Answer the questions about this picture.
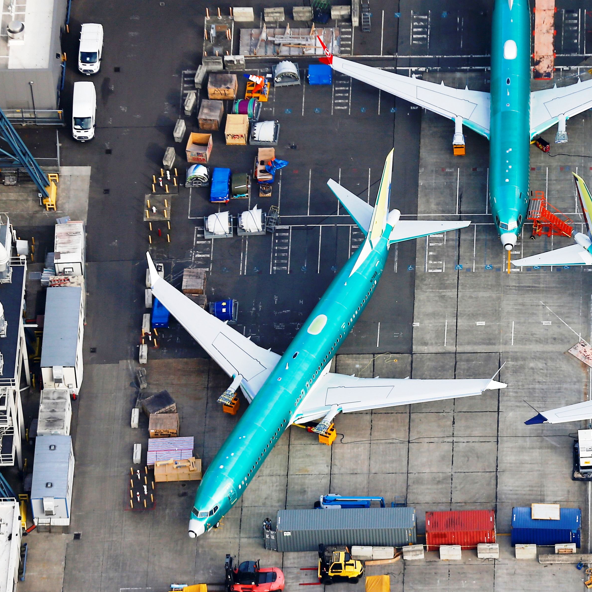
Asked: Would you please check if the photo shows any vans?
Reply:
Yes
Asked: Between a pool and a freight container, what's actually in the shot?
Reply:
freight container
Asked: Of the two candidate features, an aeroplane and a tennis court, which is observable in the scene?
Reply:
aeroplane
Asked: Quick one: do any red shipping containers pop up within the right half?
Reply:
Yes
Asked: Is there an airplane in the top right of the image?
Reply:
Yes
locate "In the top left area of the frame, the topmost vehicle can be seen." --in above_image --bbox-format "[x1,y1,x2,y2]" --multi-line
[75,18,104,80]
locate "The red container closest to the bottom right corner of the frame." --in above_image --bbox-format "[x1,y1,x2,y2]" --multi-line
[427,512,497,551]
